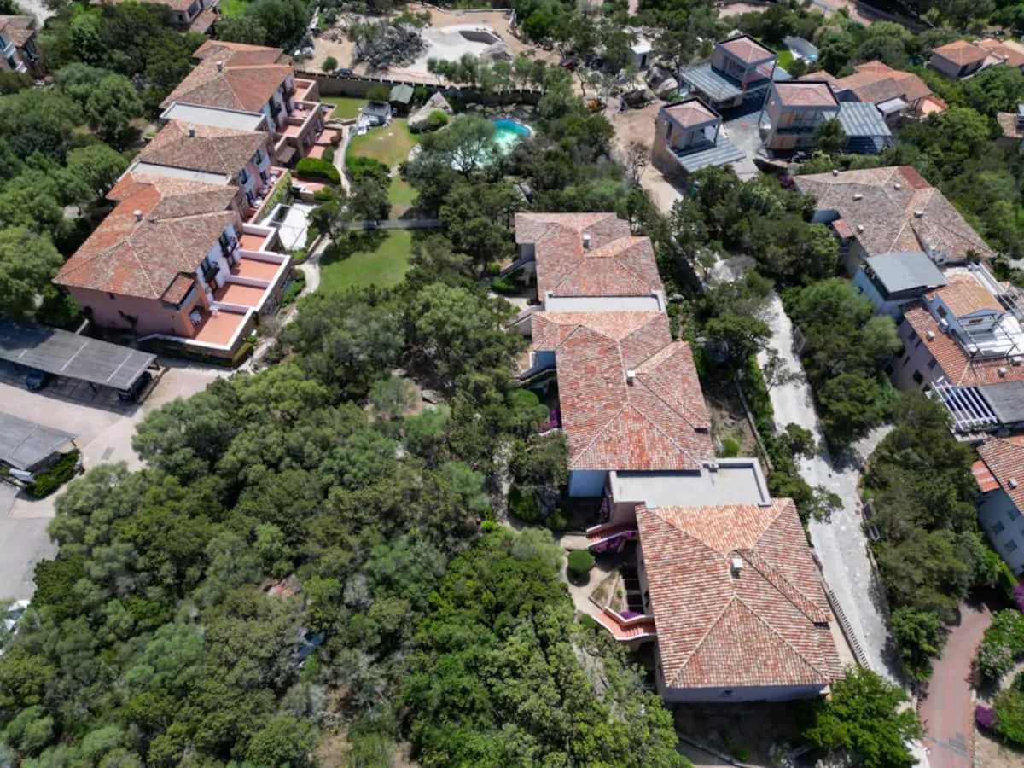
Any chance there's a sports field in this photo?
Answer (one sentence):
No, the picture doesn't show any sports field.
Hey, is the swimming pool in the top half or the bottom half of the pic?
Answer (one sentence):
The swimming pool is in the top half of the image.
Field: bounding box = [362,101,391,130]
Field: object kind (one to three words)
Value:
gazebo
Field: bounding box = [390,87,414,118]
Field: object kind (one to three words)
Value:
shed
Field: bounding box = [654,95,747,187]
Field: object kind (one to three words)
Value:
house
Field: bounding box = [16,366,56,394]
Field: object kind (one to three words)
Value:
car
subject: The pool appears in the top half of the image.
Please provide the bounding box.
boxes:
[454,120,528,166]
